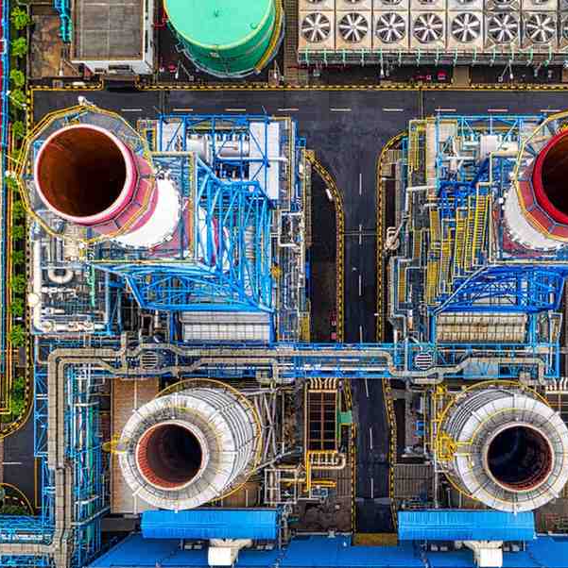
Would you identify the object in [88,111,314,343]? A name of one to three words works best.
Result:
building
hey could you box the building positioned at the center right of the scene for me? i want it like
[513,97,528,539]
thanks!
[385,115,568,344]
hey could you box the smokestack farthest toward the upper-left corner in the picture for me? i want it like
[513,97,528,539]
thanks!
[6,96,176,243]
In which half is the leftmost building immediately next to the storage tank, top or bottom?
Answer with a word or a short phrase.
top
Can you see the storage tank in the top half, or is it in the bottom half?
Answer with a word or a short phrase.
top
